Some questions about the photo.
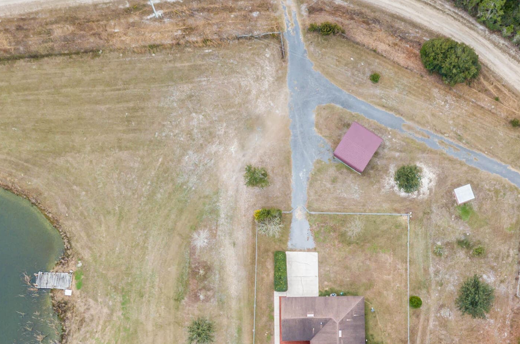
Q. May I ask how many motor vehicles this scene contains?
0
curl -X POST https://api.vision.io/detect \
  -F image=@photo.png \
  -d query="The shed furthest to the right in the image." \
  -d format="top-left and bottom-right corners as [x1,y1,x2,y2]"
[453,184,475,206]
